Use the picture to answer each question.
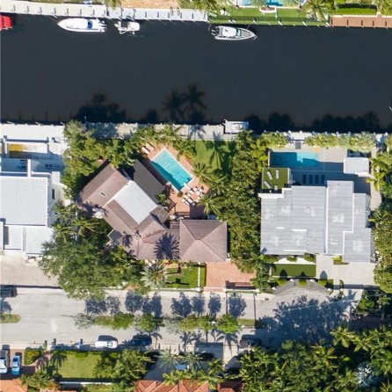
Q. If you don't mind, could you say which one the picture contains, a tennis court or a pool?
pool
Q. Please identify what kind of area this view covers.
residential area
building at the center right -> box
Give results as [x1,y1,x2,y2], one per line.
[257,156,380,264]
